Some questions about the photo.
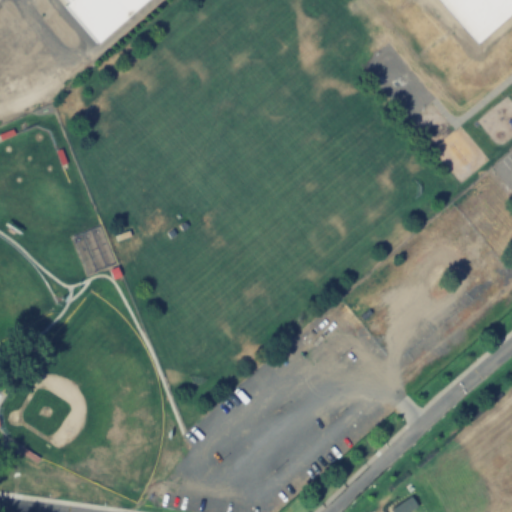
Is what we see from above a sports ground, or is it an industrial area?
sports ground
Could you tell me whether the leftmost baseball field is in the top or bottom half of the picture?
bottom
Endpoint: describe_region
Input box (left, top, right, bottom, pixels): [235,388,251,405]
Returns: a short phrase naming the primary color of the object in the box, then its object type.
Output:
white camper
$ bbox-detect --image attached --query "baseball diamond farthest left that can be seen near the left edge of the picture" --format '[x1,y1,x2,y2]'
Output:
[4,292,163,502]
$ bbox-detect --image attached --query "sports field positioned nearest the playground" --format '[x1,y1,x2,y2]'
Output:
[60,0,456,400]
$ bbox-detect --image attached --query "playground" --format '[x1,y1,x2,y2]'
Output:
[479,97,512,145]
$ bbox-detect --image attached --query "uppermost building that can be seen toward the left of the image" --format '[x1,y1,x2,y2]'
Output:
[60,0,150,44]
